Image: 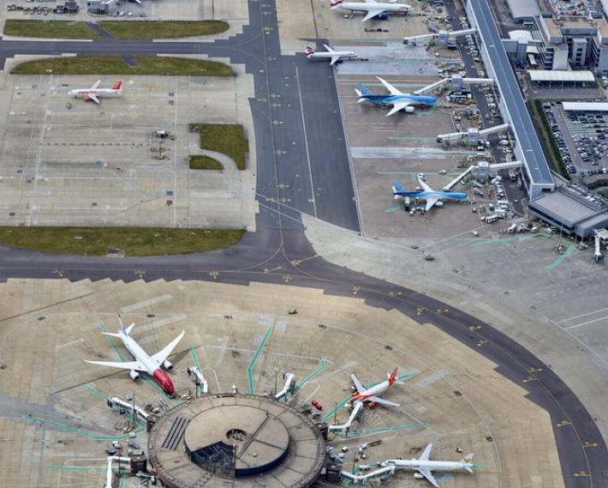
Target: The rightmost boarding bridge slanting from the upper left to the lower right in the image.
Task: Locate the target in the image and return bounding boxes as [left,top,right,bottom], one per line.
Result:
[186,365,211,397]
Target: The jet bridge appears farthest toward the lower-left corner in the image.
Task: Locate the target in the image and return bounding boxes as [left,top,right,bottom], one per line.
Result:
[104,452,133,488]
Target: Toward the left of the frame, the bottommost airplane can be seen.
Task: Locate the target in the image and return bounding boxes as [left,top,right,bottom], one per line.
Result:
[90,311,187,391]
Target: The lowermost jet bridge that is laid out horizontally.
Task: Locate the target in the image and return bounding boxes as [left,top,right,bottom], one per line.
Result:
[340,464,398,487]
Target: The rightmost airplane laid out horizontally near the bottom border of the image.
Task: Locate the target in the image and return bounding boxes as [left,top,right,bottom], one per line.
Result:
[381,441,474,486]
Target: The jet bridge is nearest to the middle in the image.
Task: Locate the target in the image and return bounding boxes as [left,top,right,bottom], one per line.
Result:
[272,370,293,402]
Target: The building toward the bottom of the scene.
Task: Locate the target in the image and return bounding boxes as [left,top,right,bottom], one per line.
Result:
[130,395,341,488]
